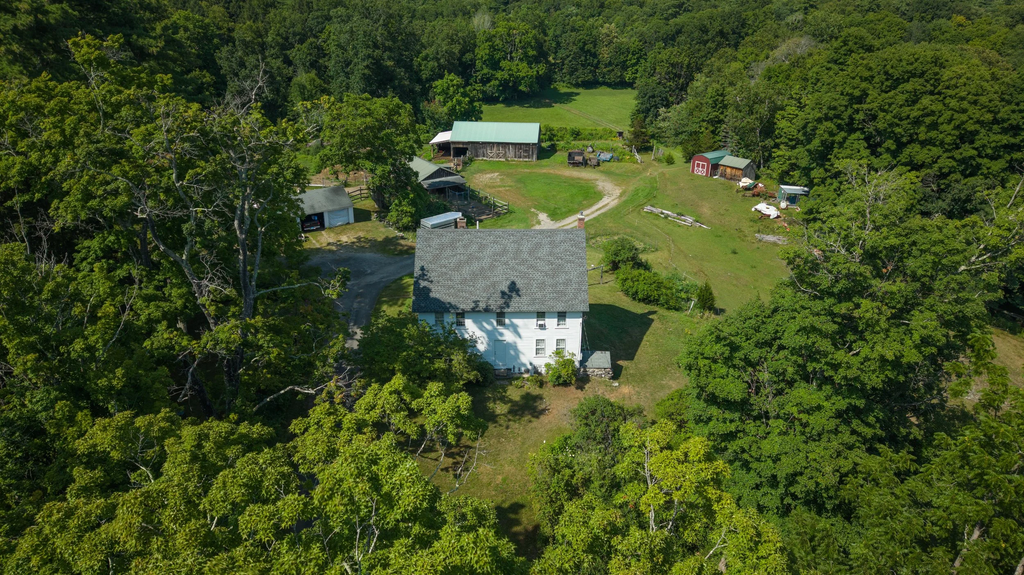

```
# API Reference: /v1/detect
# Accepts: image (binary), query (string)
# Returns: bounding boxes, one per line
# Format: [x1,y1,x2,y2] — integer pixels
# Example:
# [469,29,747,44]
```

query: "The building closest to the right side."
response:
[784,181,813,208]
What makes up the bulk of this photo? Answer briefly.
trees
